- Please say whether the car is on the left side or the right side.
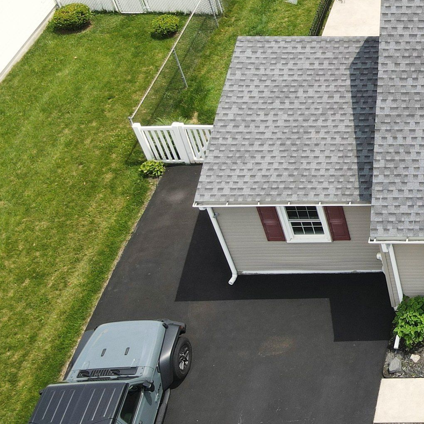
left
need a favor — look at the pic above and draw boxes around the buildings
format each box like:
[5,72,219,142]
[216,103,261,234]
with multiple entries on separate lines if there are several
[190,0,424,313]
[0,0,60,81]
